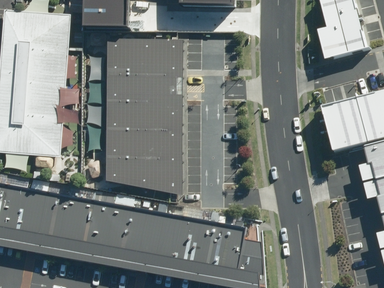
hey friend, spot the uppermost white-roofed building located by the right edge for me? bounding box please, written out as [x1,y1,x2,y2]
[318,0,372,60]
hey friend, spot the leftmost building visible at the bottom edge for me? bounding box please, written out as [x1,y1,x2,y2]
[0,185,267,288]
